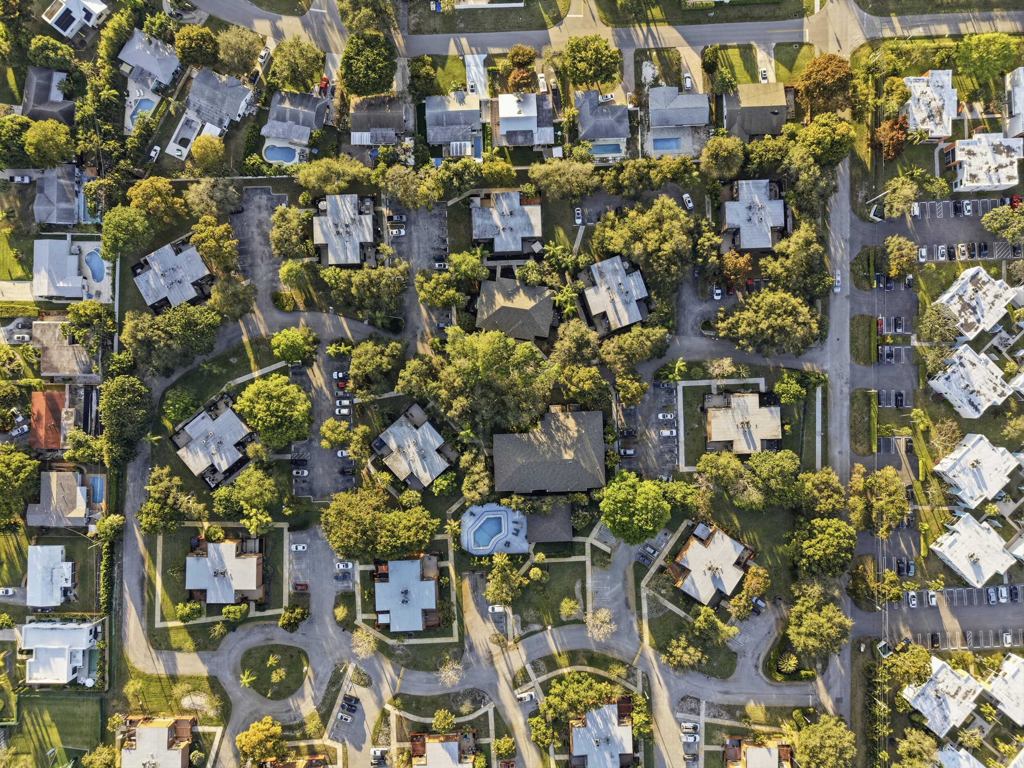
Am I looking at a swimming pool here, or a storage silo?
swimming pool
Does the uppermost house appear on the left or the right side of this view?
left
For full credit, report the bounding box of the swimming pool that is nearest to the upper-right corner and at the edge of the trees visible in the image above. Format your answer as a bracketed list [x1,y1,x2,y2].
[653,137,682,151]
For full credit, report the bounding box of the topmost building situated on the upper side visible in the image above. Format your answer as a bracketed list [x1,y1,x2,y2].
[42,0,112,39]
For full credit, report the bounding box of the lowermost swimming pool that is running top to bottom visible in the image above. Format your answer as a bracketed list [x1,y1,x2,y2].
[86,649,98,679]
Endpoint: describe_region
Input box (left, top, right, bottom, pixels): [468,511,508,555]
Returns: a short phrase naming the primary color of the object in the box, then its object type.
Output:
blue swimming pool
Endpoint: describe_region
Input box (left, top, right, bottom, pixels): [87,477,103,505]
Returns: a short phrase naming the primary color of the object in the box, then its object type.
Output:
blue swimming pool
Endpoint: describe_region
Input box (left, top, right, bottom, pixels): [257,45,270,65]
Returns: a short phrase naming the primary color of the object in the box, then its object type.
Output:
white vehicle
